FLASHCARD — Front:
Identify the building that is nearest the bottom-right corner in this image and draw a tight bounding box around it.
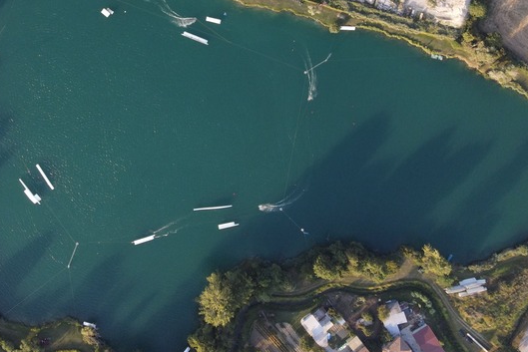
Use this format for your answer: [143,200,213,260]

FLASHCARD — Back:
[410,322,444,352]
